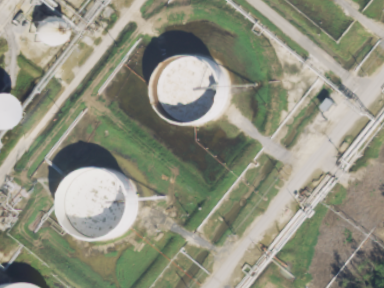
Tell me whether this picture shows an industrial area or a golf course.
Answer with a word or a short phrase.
industrial area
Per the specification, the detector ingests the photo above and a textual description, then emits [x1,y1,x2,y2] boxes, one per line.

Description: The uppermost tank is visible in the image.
[36,14,72,48]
